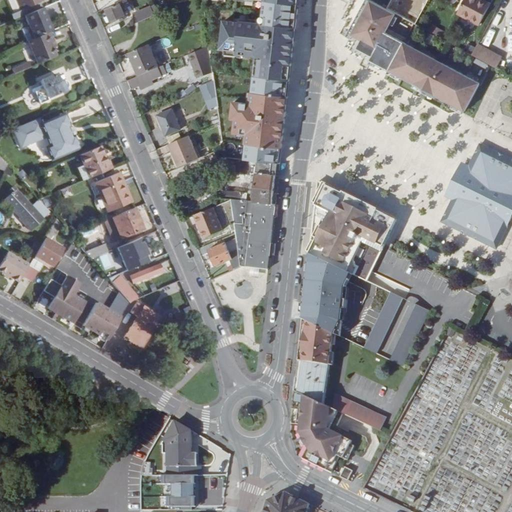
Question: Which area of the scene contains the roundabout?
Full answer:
The roundabout sits in the bottom section of the image.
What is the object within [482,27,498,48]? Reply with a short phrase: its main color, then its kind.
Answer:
white vehicle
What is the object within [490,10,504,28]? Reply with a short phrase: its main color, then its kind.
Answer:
white vehicle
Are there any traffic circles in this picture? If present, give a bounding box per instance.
[215,378,288,451]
